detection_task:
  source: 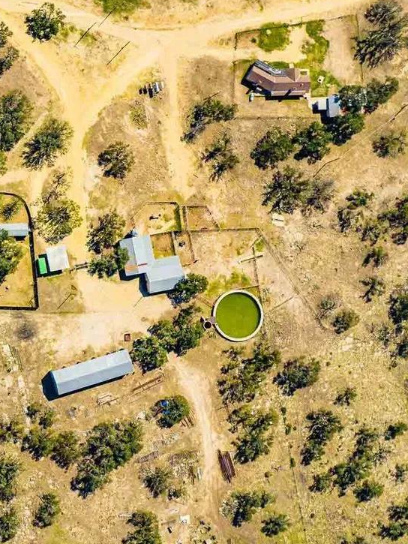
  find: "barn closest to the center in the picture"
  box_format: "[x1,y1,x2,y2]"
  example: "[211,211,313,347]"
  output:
[145,255,187,295]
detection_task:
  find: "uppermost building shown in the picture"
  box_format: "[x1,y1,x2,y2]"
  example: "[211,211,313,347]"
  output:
[243,59,312,97]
